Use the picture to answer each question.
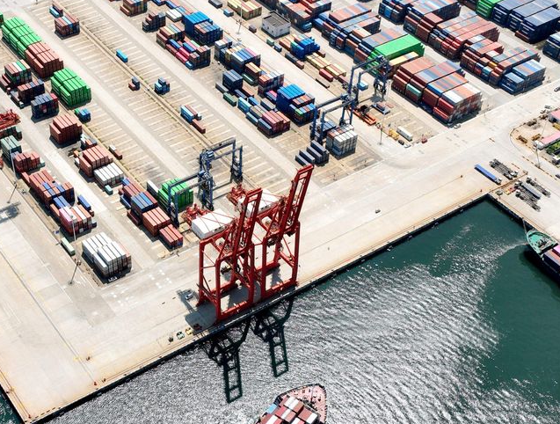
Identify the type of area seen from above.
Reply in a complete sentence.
This looks like a port.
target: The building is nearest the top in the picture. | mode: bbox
[260,11,291,37]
